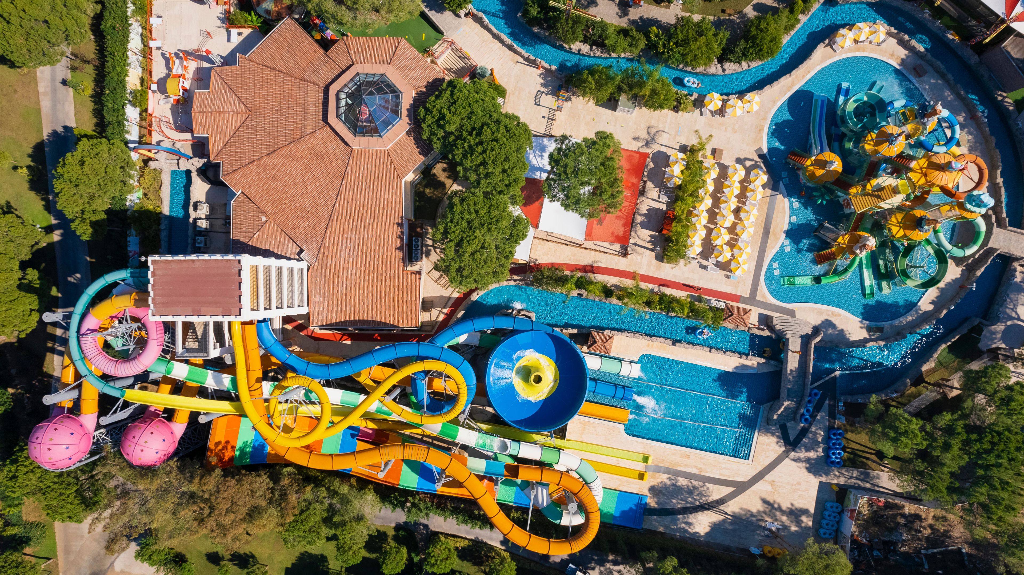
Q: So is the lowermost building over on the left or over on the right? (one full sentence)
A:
The lowermost building appears in the right half of the scene.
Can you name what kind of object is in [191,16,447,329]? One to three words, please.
building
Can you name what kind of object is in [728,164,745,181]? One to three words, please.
umbrella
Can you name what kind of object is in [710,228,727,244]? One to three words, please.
umbrella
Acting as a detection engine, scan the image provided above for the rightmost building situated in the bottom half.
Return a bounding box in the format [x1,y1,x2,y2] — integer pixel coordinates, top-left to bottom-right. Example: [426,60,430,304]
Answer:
[921,373,959,402]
